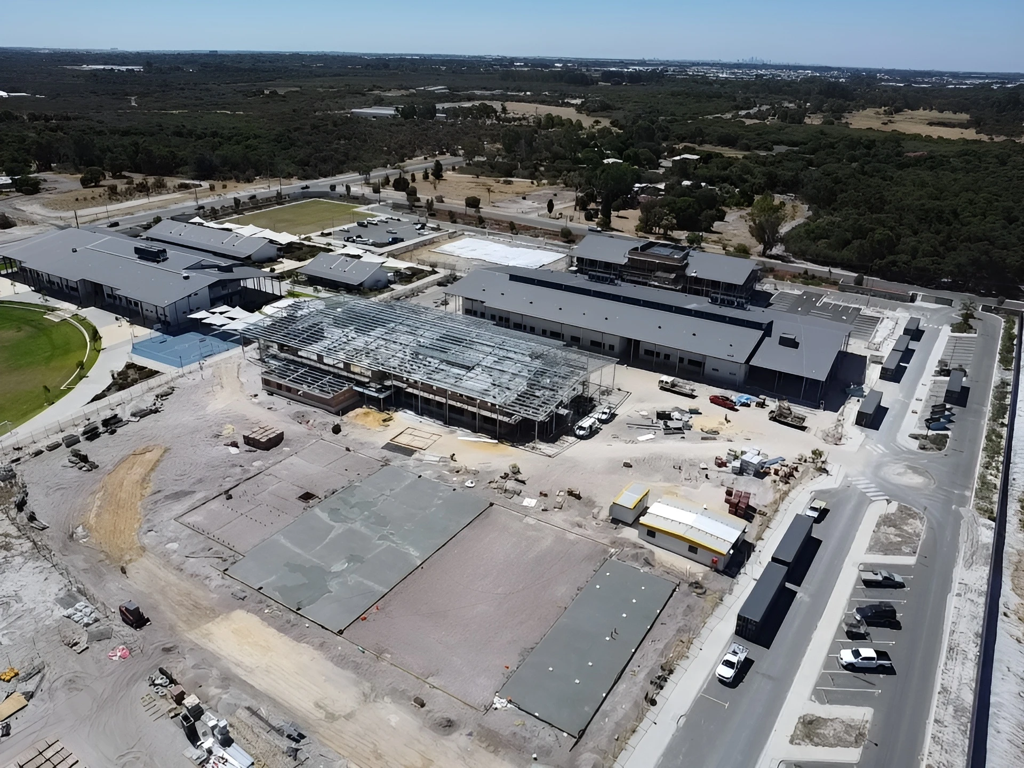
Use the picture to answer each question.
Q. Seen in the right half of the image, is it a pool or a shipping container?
shipping container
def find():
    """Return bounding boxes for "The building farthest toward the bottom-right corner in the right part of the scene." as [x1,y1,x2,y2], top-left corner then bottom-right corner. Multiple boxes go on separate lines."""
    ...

[637,482,753,568]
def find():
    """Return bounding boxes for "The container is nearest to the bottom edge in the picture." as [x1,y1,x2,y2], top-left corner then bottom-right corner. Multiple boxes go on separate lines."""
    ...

[735,560,788,640]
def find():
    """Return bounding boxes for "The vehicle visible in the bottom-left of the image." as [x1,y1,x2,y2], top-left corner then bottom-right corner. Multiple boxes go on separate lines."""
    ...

[119,607,148,635]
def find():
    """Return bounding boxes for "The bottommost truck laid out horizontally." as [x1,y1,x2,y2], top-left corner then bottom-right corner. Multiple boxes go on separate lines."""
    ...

[840,650,895,673]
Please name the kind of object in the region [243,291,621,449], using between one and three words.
building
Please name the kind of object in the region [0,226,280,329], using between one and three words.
building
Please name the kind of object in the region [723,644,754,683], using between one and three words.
truck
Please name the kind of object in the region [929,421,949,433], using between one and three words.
vehicle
